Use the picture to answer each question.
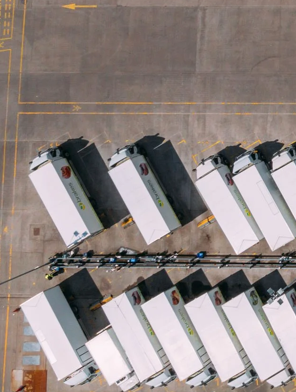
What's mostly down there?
paved ground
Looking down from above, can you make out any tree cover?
No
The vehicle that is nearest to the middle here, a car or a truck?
truck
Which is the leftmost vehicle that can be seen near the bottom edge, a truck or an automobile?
truck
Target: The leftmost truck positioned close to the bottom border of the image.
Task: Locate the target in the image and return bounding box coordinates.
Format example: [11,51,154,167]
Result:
[20,283,103,390]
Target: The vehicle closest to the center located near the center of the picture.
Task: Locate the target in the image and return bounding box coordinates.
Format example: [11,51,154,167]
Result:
[106,139,184,245]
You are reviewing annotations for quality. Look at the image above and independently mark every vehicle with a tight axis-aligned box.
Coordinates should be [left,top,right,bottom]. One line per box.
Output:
[266,140,296,218]
[229,144,296,252]
[221,284,296,392]
[20,283,103,390]
[191,148,265,255]
[28,141,107,247]
[85,321,150,392]
[106,139,184,245]
[184,285,259,392]
[261,285,296,375]
[101,284,179,392]
[141,283,219,391]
